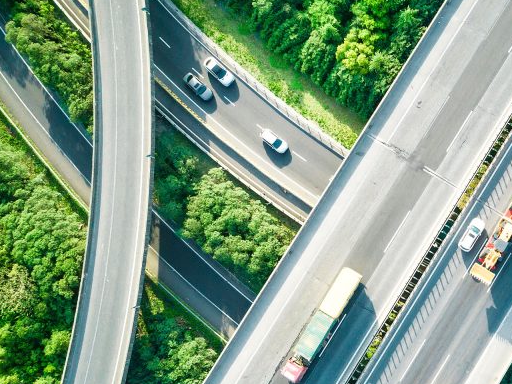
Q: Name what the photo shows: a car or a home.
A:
car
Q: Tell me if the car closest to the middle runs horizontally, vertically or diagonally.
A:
diagonally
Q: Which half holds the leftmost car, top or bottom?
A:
top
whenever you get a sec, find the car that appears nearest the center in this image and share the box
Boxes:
[259,127,290,155]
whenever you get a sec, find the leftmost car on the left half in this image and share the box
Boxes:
[182,72,215,102]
